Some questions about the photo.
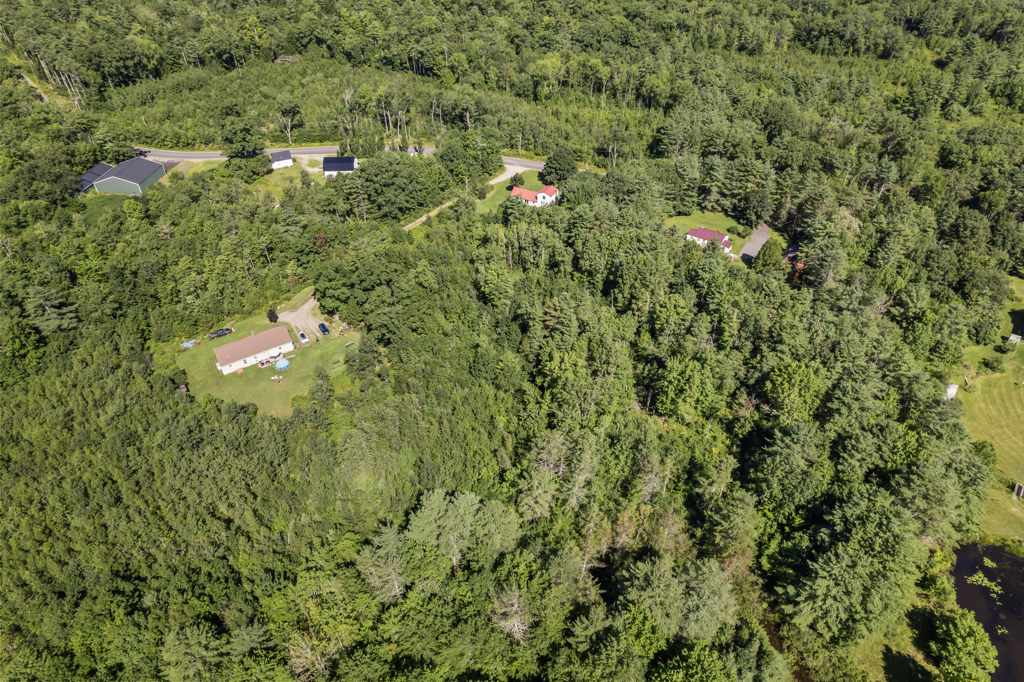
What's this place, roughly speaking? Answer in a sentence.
This image shows a forest.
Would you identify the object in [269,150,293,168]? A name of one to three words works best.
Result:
house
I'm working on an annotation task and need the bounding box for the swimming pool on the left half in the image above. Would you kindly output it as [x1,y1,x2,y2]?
[275,358,291,372]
